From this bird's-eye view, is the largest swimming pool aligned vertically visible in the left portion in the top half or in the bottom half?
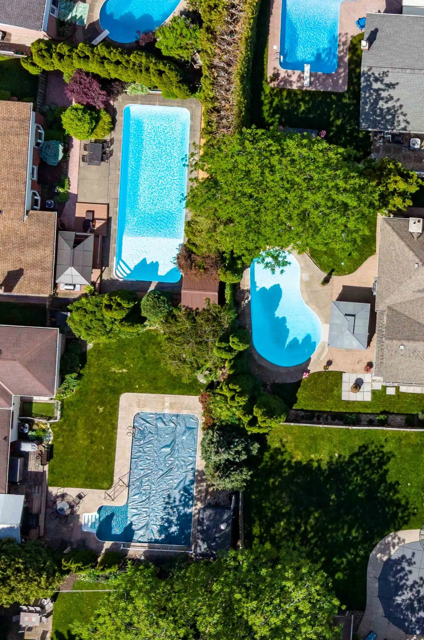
top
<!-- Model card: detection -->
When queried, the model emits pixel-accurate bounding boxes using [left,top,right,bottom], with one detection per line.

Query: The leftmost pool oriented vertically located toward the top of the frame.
[114,104,191,283]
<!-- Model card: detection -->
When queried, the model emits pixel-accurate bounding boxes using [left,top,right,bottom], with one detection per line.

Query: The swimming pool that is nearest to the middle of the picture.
[249,250,323,368]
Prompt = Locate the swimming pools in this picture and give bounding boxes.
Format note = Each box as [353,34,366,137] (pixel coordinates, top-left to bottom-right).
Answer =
[249,250,323,368]
[99,0,182,43]
[82,412,199,547]
[273,0,355,74]
[114,104,191,283]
